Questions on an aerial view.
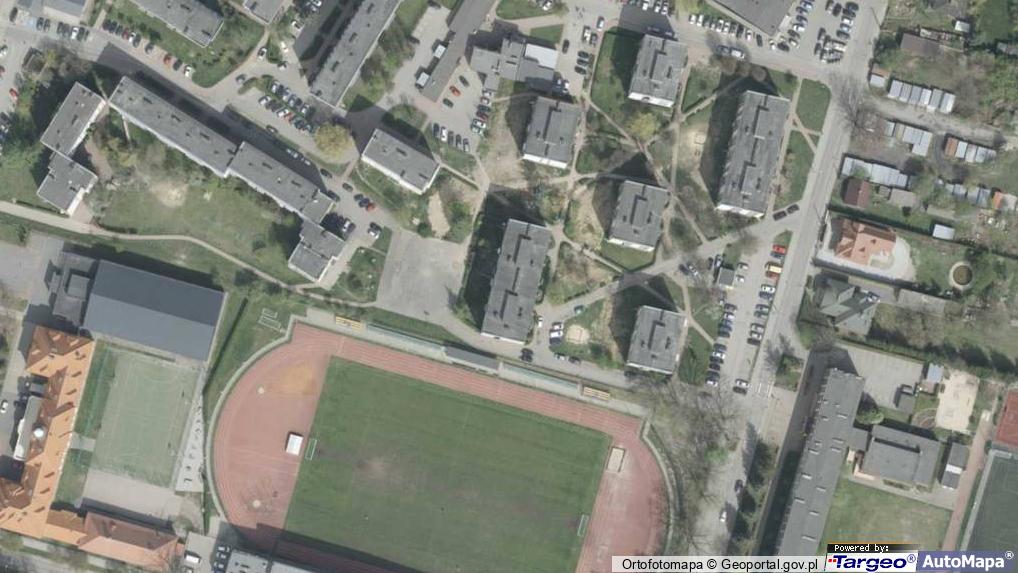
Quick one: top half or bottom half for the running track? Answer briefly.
bottom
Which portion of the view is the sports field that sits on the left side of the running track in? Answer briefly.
bottom left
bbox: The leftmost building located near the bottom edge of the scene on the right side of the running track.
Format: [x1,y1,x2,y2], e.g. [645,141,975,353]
[770,371,864,573]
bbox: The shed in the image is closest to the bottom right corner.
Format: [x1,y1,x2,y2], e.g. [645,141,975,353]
[941,443,969,489]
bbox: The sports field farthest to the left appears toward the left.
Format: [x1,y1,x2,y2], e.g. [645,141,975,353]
[89,345,200,488]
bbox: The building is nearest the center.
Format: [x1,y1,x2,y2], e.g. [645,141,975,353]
[481,219,551,345]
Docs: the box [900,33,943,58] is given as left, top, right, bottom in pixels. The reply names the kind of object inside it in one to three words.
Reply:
shed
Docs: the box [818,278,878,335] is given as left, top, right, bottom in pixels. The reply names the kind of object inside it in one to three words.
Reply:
house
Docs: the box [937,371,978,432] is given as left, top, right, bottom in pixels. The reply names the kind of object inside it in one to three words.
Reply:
sports court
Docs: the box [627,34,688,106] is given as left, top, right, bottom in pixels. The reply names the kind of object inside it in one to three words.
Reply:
building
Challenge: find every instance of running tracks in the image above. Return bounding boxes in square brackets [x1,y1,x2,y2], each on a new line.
[208,315,680,573]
